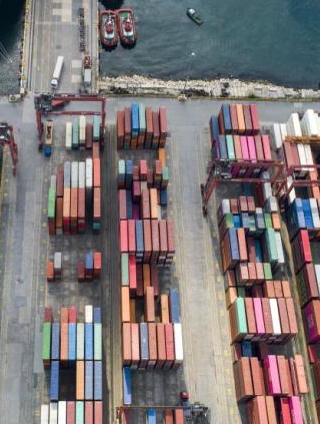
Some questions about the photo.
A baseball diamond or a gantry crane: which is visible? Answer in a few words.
gantry crane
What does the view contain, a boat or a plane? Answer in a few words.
boat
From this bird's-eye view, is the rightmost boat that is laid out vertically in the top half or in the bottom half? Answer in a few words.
top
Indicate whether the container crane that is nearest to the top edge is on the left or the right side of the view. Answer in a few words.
left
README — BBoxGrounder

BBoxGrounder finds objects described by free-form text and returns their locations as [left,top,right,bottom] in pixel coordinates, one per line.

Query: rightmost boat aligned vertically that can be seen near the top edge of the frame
[117,9,138,49]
